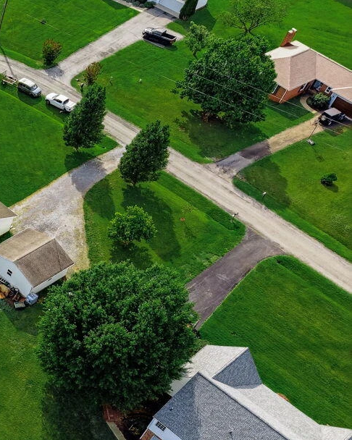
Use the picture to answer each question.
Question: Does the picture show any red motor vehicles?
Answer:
No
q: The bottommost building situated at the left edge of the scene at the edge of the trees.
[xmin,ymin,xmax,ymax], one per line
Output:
[0,228,73,296]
